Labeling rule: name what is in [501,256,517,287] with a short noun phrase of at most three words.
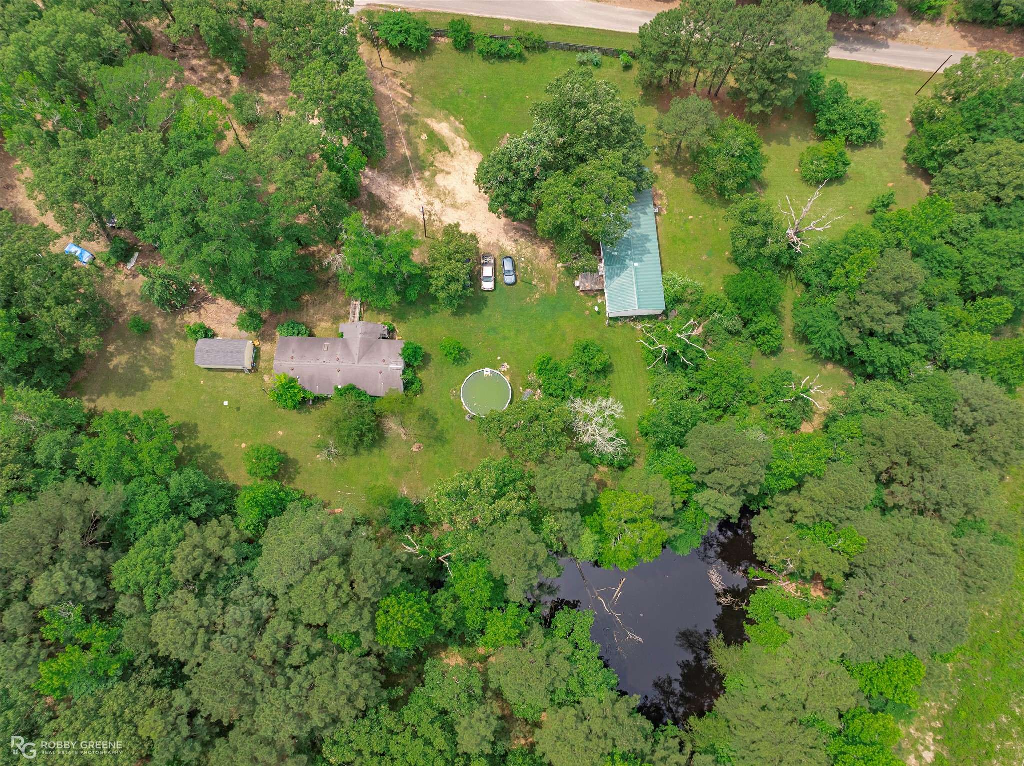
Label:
car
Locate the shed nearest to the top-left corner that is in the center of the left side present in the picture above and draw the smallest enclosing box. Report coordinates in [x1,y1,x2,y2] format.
[193,340,254,369]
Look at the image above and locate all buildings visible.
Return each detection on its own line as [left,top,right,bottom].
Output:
[193,340,254,369]
[600,173,666,320]
[273,320,405,397]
